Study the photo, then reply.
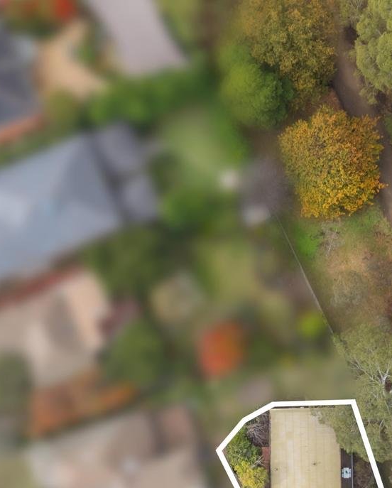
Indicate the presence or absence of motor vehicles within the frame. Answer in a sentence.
No, I can see no motor vehicle in this picture.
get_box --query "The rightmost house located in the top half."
[86,0,188,77]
